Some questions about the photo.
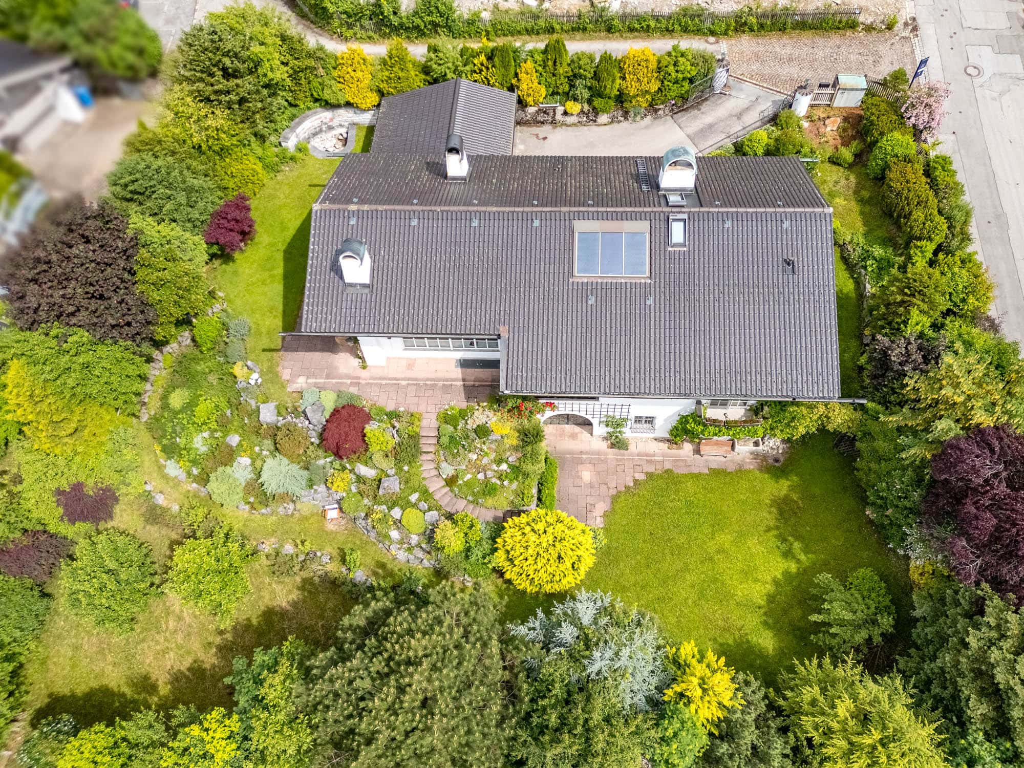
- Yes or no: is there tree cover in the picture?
Yes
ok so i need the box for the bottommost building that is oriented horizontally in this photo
[281,128,873,443]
